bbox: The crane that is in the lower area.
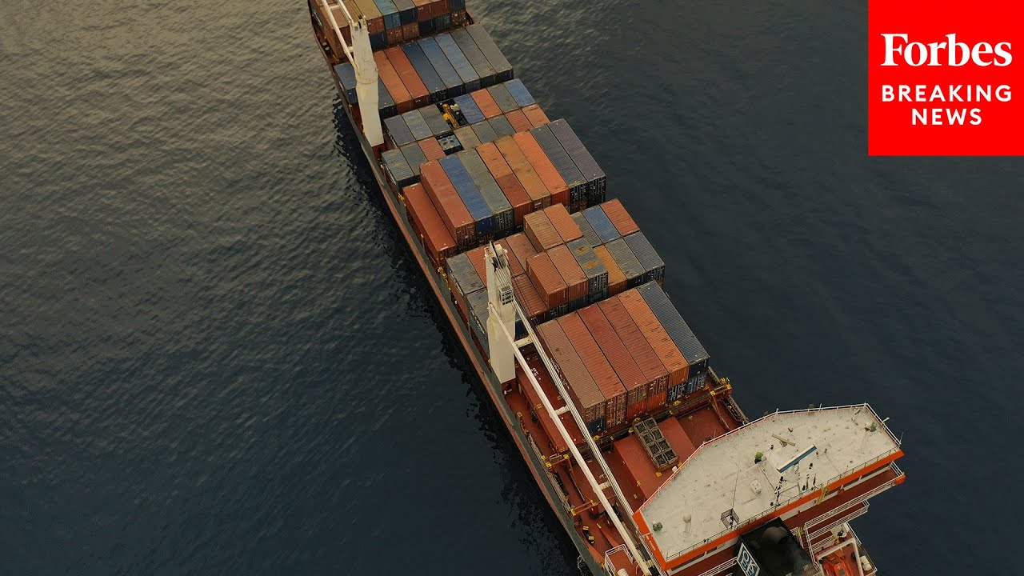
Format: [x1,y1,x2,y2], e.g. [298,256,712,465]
[483,243,657,576]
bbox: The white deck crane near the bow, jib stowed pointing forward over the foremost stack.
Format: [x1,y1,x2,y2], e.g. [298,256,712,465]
[319,0,389,150]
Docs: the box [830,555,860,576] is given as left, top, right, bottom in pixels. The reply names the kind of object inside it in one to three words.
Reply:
boat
